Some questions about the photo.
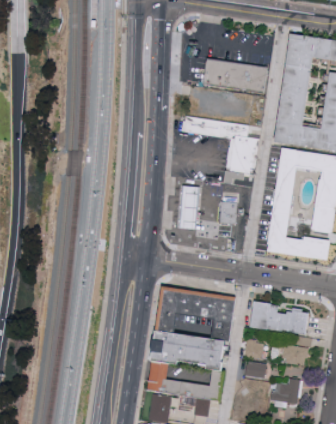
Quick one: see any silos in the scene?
No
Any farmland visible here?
No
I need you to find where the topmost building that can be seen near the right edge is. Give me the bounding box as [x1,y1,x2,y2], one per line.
[274,34,336,153]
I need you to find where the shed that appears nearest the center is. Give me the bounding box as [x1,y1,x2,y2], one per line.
[178,186,200,230]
